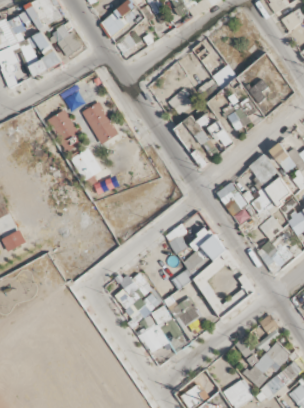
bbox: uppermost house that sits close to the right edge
[281,8,304,32]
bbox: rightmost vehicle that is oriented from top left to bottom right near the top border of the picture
[254,1,269,20]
